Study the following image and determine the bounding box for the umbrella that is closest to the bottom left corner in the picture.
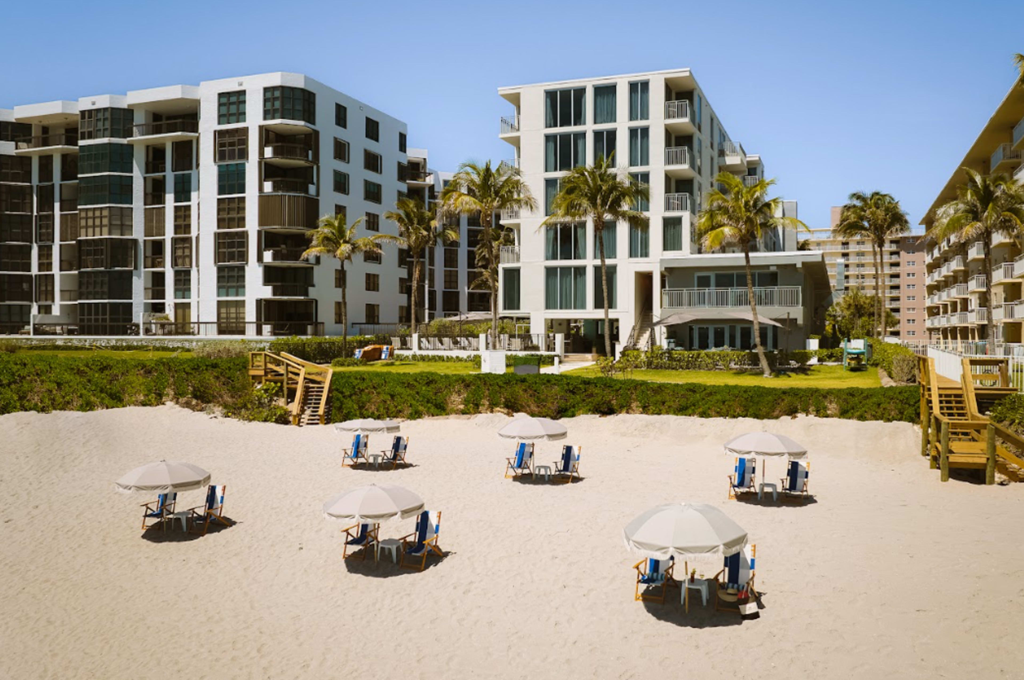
[115,459,211,535]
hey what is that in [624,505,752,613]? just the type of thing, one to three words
umbrella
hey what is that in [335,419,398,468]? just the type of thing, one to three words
umbrella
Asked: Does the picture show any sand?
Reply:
Yes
